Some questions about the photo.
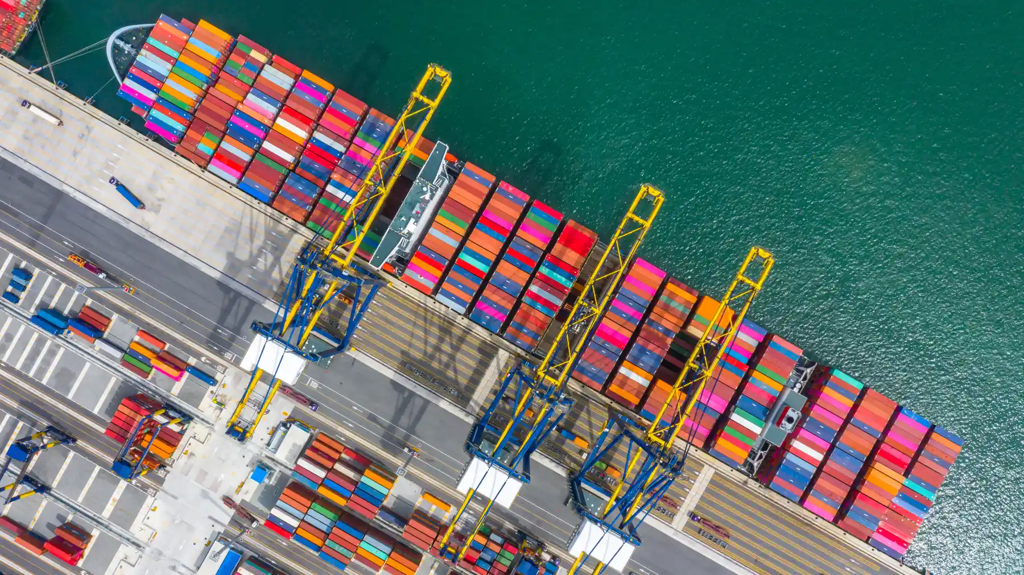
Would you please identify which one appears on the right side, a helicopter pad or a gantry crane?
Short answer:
gantry crane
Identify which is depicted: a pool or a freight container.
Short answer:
freight container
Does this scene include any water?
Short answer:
Yes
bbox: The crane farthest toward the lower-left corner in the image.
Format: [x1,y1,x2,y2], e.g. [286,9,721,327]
[0,429,77,507]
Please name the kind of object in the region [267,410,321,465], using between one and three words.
shed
